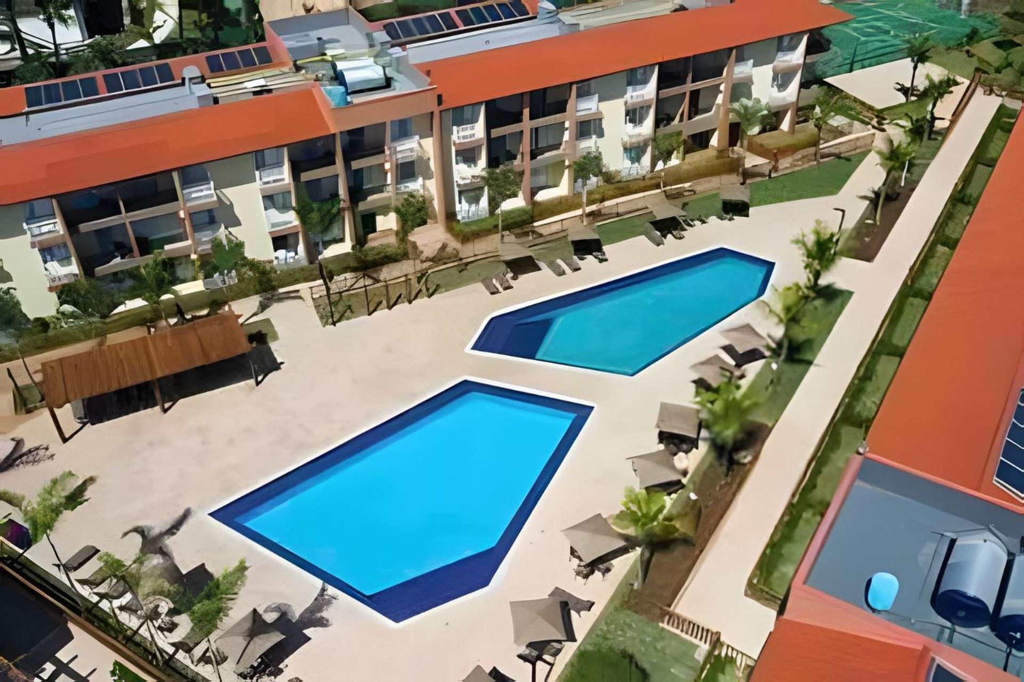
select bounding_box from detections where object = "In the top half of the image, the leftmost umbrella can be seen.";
[491,245,531,284]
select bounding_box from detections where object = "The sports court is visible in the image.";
[809,0,1010,84]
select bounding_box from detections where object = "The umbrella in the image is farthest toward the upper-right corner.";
[710,184,752,221]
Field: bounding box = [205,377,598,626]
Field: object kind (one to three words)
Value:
swimming pool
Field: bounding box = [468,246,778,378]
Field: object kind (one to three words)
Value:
swimming pool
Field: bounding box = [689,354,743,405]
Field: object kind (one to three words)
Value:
umbrella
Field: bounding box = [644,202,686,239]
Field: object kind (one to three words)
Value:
umbrella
